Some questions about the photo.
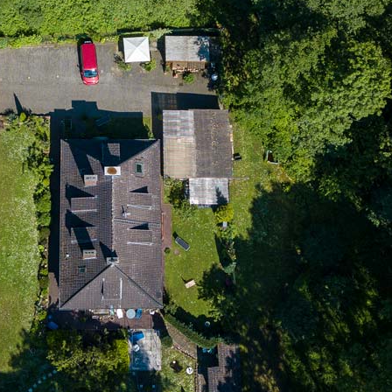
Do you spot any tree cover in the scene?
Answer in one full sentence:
Yes, tree cover can be seen from above here.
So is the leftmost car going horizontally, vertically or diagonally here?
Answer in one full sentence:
In this picture, the leftmost car lies vertically.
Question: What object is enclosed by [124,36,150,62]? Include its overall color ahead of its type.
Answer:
white gazebo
